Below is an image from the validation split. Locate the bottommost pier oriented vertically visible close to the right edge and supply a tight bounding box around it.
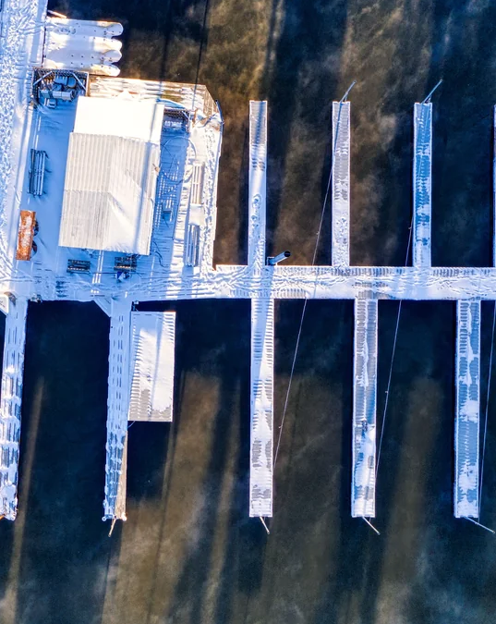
[453,300,481,518]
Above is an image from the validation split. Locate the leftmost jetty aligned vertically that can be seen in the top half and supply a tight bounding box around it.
[249,101,267,266]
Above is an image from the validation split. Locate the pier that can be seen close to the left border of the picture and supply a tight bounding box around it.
[0,300,29,520]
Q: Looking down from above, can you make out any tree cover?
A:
No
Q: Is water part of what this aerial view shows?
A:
Yes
